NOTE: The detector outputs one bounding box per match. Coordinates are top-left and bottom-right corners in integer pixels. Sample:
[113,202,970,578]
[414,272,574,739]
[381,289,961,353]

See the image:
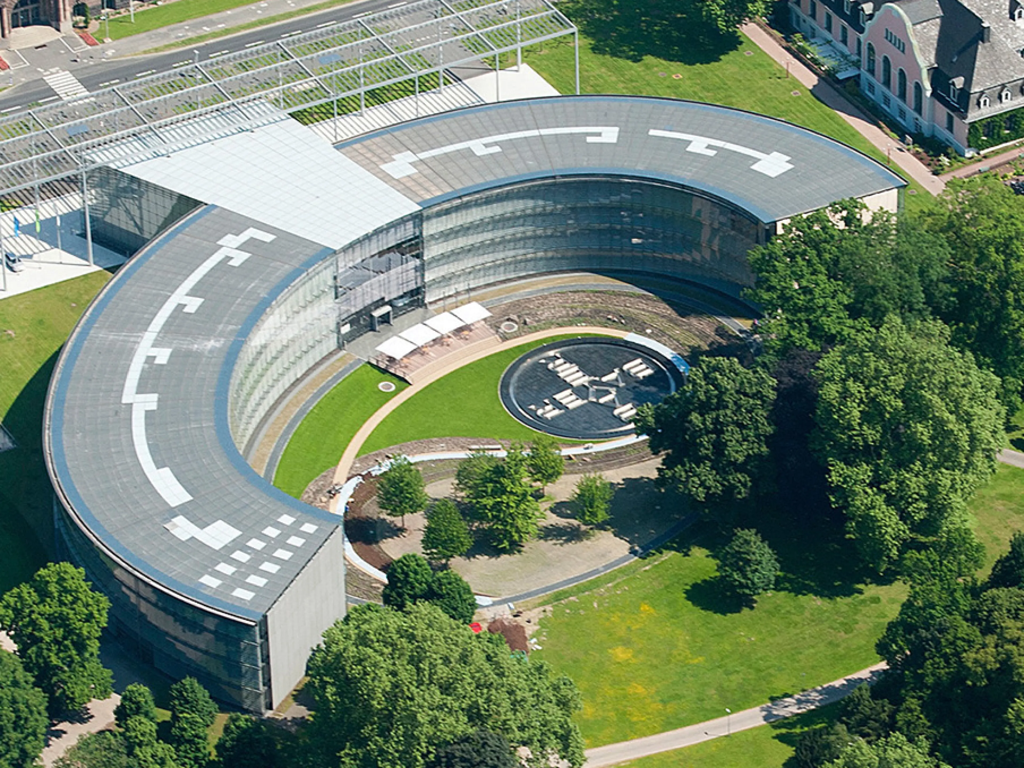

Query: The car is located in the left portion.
[3,249,24,267]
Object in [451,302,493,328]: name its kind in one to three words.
umbrella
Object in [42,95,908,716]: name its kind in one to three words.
building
